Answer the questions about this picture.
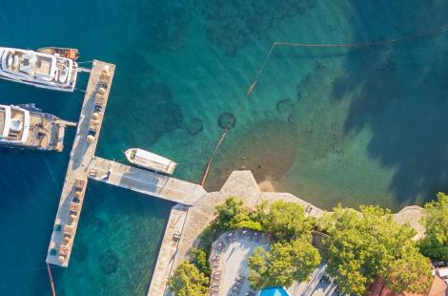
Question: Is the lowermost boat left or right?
left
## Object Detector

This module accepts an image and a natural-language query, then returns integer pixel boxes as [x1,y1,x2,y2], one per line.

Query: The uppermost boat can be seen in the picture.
[39,46,80,61]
